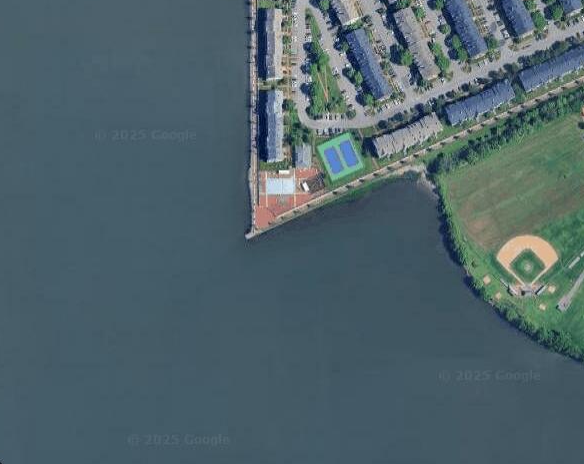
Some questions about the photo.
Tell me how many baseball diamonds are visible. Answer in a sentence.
In total, 1 baseball diamond can be seen.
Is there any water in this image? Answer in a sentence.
Yes, there is water in the image.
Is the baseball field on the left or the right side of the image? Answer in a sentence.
The baseball field sits on the right side.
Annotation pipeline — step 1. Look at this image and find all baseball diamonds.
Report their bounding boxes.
[493,234,560,290]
